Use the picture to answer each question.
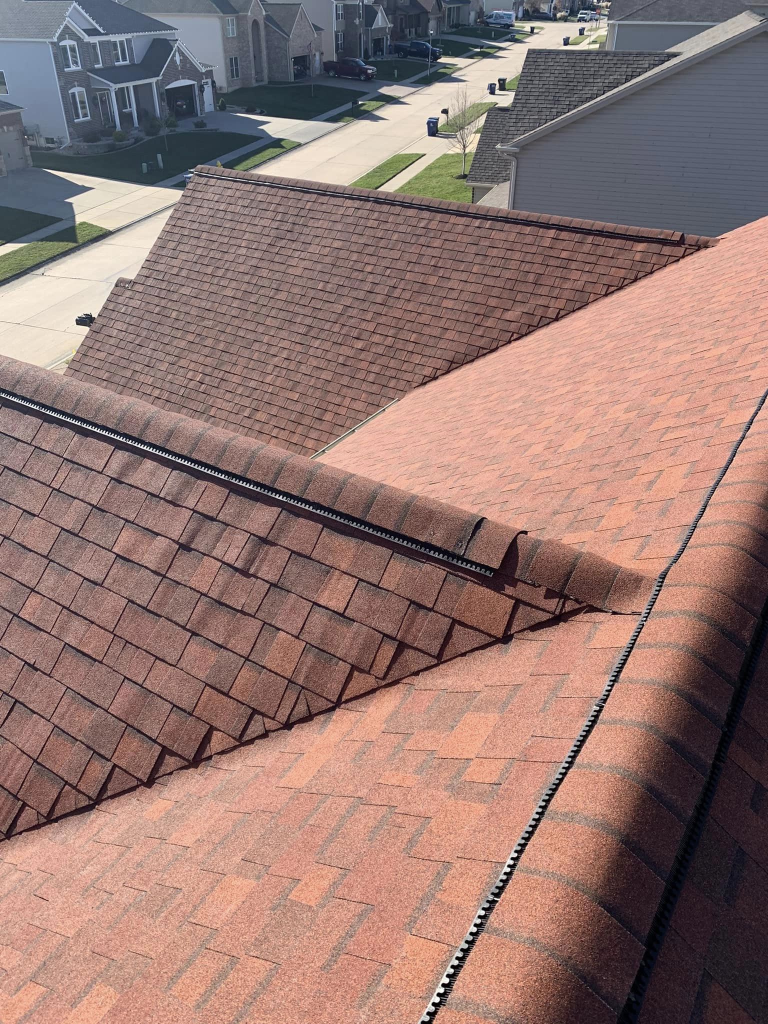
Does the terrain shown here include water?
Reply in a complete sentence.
No, there's no water in this view.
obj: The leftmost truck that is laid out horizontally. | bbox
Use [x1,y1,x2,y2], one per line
[324,55,377,77]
